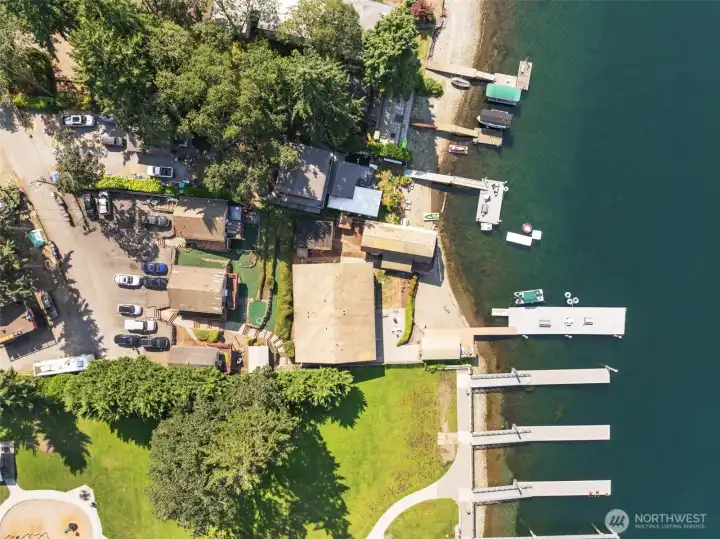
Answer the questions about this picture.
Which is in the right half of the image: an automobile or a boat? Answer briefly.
boat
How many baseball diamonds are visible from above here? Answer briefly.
none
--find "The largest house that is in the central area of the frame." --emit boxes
[291,261,378,365]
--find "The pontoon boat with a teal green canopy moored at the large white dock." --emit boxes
[510,289,546,307]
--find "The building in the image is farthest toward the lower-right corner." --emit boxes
[420,335,461,361]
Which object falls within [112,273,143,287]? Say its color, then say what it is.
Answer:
white car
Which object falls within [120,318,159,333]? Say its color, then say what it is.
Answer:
white vehicle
